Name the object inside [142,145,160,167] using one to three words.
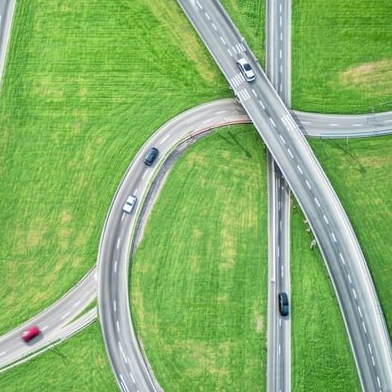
car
